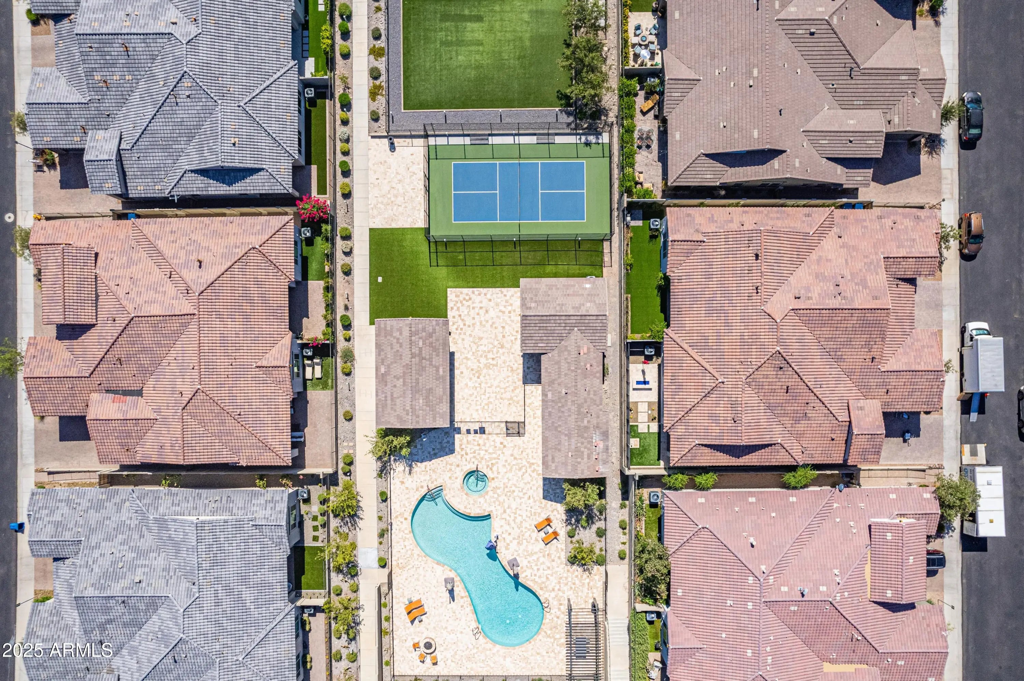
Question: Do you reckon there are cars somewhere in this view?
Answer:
Yes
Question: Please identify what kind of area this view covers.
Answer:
residential area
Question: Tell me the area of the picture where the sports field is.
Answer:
top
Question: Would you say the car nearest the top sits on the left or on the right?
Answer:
right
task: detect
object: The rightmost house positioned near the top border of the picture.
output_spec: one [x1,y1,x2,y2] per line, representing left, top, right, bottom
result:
[660,0,948,189]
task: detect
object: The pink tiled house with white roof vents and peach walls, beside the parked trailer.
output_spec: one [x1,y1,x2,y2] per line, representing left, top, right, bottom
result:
[660,485,950,681]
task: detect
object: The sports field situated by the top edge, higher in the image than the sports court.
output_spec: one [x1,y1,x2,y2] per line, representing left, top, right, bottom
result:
[401,0,577,112]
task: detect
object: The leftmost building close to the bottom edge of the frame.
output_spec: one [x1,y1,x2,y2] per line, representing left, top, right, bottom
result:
[24,485,304,681]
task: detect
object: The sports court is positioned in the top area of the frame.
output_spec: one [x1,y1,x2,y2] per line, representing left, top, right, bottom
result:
[428,135,611,241]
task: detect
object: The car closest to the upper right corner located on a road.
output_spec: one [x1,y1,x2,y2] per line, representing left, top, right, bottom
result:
[960,91,988,141]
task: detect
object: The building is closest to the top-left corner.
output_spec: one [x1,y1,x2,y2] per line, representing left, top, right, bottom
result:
[24,0,304,197]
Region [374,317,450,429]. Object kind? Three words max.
building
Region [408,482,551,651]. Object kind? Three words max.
swimming pool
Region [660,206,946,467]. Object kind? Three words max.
house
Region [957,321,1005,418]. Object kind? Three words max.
truck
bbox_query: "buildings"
[660,485,950,681]
[660,206,946,467]
[660,0,948,189]
[24,0,304,197]
[24,485,304,681]
[519,277,609,478]
[374,317,450,429]
[22,214,301,466]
